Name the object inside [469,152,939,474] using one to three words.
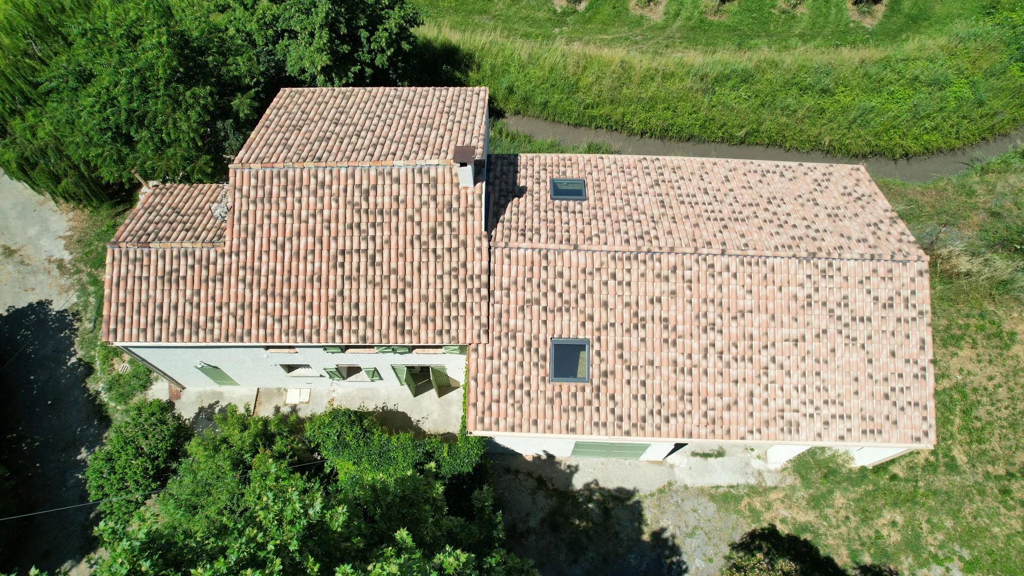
barn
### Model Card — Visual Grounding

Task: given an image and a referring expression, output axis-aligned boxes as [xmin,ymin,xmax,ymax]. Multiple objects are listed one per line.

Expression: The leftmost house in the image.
[103,86,494,399]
